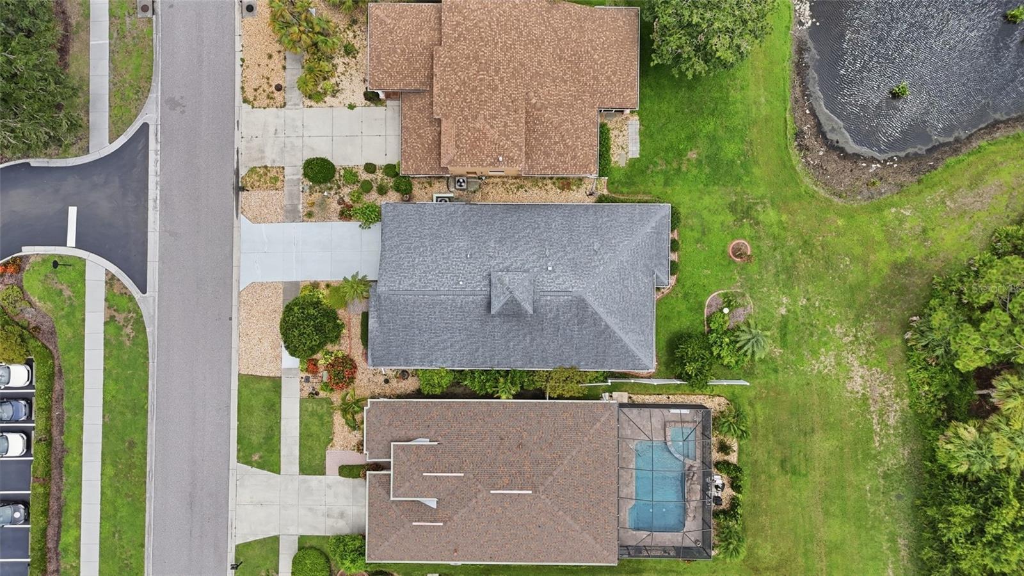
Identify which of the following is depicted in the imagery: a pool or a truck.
pool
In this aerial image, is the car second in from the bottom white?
Yes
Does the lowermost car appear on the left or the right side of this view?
left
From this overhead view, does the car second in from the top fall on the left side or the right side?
left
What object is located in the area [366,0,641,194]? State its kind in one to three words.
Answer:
house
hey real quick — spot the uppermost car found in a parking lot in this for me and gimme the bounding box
[0,363,33,390]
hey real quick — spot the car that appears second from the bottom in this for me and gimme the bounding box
[0,431,28,459]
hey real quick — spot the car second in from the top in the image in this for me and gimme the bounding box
[0,397,30,425]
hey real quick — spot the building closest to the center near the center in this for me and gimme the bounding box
[367,200,673,374]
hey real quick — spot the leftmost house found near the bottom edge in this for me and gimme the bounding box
[363,399,619,565]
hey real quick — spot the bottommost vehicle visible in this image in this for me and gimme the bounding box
[0,500,30,529]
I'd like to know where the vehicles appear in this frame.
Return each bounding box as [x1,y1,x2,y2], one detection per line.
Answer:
[0,500,30,529]
[0,431,28,459]
[0,397,30,425]
[0,363,33,390]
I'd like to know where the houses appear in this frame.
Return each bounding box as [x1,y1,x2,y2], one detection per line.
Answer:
[363,399,619,565]
[367,200,673,374]
[366,0,641,194]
